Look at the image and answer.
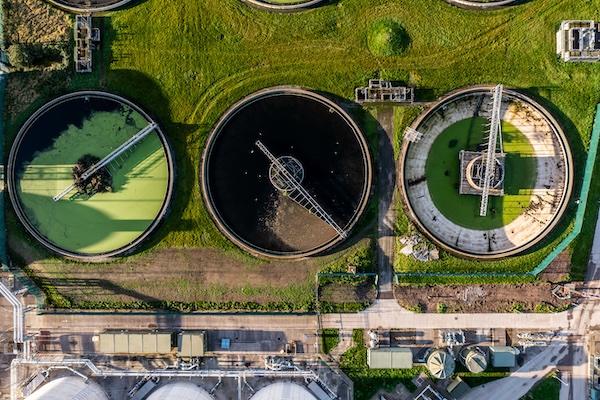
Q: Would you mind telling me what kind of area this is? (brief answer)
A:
industrial area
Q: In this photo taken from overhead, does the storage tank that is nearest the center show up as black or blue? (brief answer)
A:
black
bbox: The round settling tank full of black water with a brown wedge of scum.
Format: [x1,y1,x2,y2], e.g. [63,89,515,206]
[202,87,372,258]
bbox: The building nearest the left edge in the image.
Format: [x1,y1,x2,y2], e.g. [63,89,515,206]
[100,330,175,353]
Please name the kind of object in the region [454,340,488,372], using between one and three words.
silo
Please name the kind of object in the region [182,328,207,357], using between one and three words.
building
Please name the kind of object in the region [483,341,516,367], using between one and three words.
building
